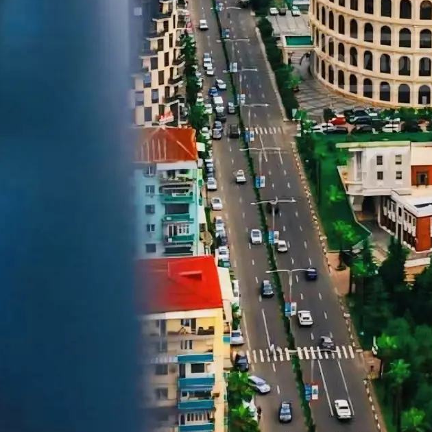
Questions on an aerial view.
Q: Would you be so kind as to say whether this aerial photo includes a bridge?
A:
No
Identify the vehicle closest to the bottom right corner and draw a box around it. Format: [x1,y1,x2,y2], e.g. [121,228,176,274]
[335,403,352,420]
